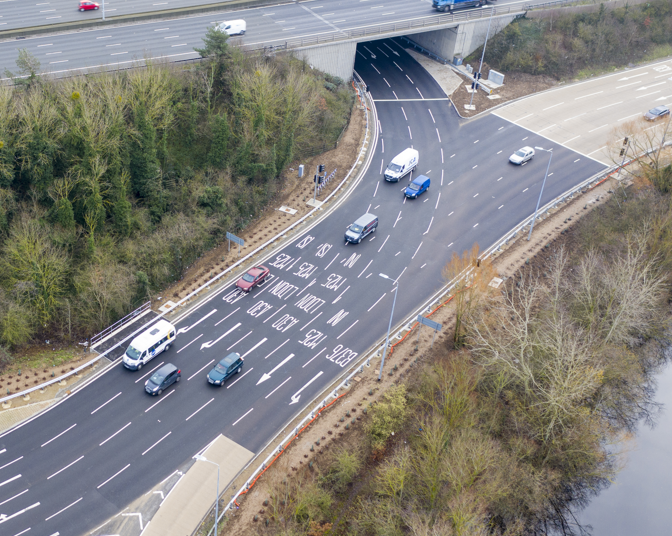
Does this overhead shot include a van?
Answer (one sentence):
Yes, a van is visible in the scene.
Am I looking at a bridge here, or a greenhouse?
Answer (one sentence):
The image shows a bridge.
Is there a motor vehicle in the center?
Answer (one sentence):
Yes, a motor vehicle appears in the center.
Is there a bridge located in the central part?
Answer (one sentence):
No, there's no bridge to be seen in the central part.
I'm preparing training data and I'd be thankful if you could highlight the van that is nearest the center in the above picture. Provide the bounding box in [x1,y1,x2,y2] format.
[344,211,379,244]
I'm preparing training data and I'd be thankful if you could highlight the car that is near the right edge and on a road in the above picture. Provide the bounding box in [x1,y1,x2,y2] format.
[645,104,672,120]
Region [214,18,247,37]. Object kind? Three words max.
vehicle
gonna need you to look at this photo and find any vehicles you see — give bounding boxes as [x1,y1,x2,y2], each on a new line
[204,351,246,388]
[403,174,431,200]
[118,319,175,373]
[509,146,537,165]
[77,0,99,11]
[344,211,379,244]
[432,0,487,12]
[145,364,182,396]
[214,18,247,37]
[234,264,270,293]
[383,148,420,182]
[645,104,672,120]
